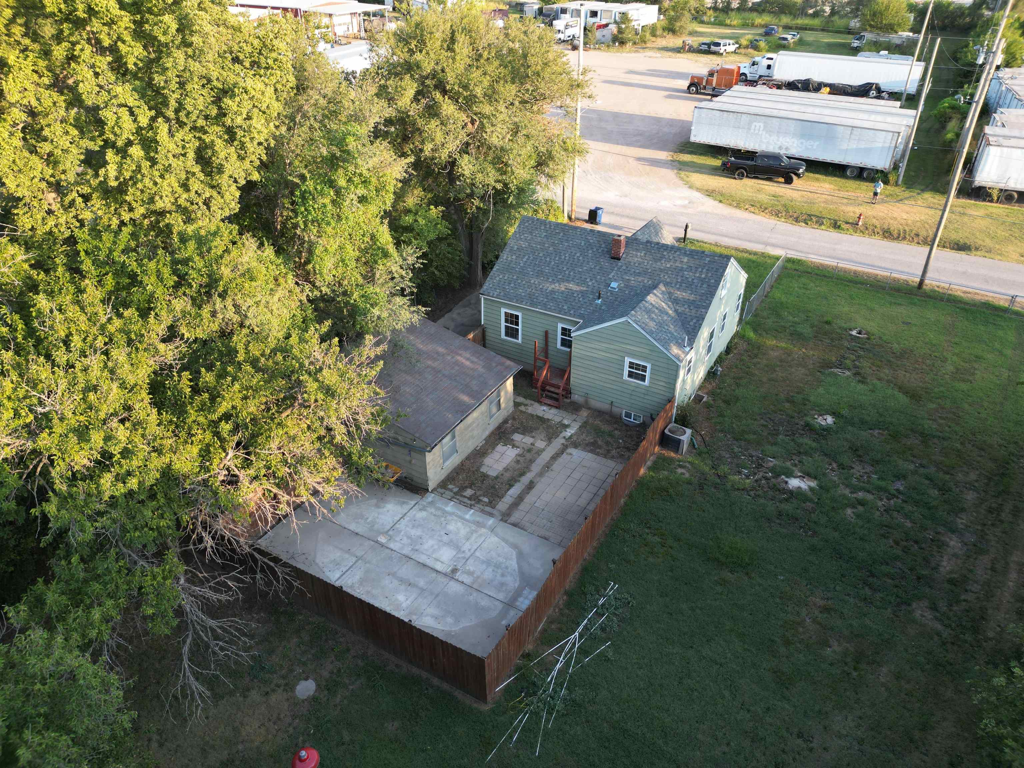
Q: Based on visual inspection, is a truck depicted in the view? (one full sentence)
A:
Yes, there's a truck down there.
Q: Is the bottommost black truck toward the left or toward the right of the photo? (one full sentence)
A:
The bottommost black truck sits on the right side.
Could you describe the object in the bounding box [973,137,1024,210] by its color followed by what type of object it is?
white trailer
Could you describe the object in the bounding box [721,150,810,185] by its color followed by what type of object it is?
black truck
